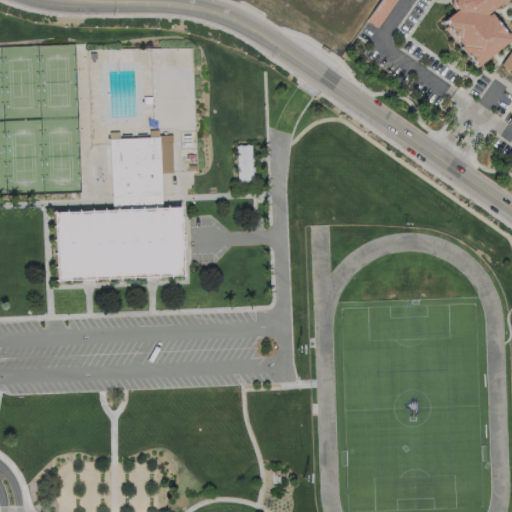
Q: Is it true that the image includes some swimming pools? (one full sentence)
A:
Yes, I can see a swimming pool in this picture.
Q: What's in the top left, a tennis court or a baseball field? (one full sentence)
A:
Visible in the top left is a tennis court.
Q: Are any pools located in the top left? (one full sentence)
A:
Yes, a pool can be seen in the top left.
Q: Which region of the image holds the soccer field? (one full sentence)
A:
You can find the soccer field in the bottom right area of the picture.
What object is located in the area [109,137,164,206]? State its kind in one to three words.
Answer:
building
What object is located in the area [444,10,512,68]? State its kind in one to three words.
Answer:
building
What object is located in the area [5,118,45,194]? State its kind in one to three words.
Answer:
tennis court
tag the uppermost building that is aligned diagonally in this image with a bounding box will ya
[368,0,399,28]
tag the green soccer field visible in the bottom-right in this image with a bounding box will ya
[334,298,492,512]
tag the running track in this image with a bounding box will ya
[312,226,509,512]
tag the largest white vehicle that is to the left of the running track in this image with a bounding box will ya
[150,342,164,363]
